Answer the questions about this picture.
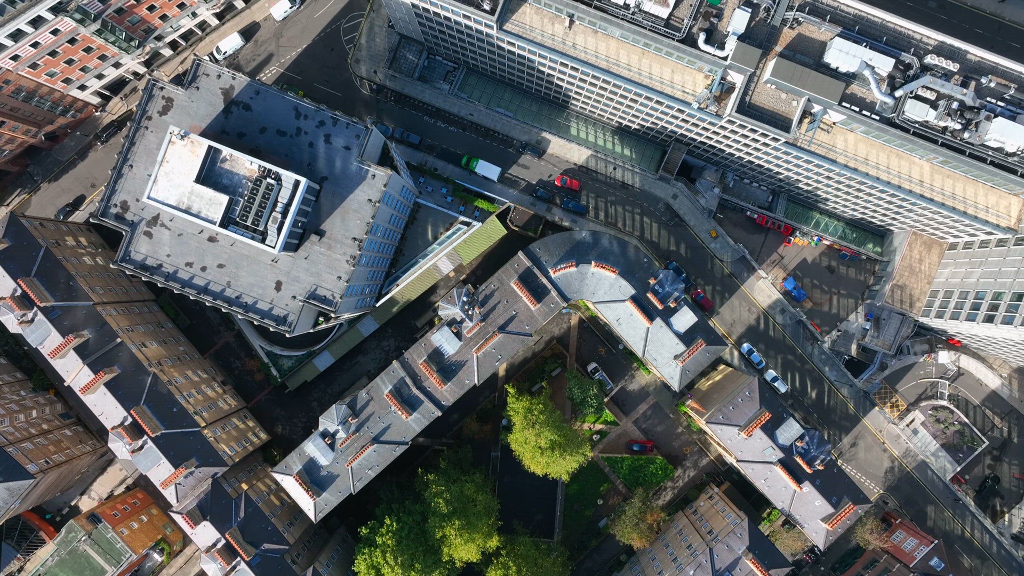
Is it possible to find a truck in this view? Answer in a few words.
Yes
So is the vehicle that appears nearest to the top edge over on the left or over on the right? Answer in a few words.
left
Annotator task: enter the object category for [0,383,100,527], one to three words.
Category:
building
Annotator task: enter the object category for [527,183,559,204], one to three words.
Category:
car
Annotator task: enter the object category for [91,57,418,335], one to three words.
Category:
building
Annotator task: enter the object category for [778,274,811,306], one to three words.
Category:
truck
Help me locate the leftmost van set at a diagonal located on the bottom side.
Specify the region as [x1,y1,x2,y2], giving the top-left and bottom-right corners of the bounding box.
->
[585,360,616,395]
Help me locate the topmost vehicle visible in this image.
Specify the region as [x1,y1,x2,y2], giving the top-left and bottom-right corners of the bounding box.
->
[265,0,305,24]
